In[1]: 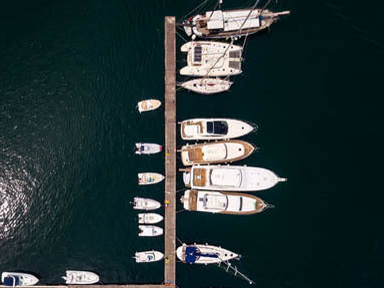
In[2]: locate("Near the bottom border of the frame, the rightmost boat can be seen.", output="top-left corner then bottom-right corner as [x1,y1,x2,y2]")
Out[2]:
[176,241,254,283]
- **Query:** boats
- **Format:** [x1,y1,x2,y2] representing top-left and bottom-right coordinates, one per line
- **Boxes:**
[176,0,259,80]
[136,225,164,236]
[176,118,259,142]
[176,164,290,193]
[63,271,100,285]
[131,250,166,263]
[131,197,165,210]
[135,213,165,224]
[182,172,189,185]
[2,272,40,287]
[176,241,254,283]
[136,93,165,113]
[176,190,275,214]
[185,25,192,36]
[176,63,233,95]
[134,143,164,154]
[176,140,259,167]
[135,172,165,184]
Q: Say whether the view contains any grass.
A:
No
